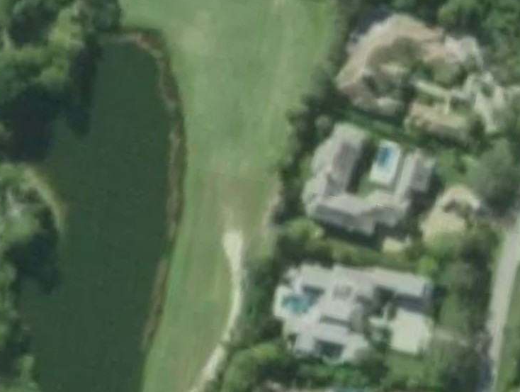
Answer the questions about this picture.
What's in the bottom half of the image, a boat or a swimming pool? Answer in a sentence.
It is a swimming pool that can be seen in the bottom half of the image.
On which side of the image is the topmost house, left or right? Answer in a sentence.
The topmost house sits on the right side.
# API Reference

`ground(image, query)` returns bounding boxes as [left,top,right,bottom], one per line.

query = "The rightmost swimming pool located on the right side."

[371,140,401,185]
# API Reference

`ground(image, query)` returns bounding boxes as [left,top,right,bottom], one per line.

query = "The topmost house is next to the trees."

[329,8,464,114]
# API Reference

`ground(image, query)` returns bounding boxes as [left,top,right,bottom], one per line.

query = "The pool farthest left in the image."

[273,281,323,328]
